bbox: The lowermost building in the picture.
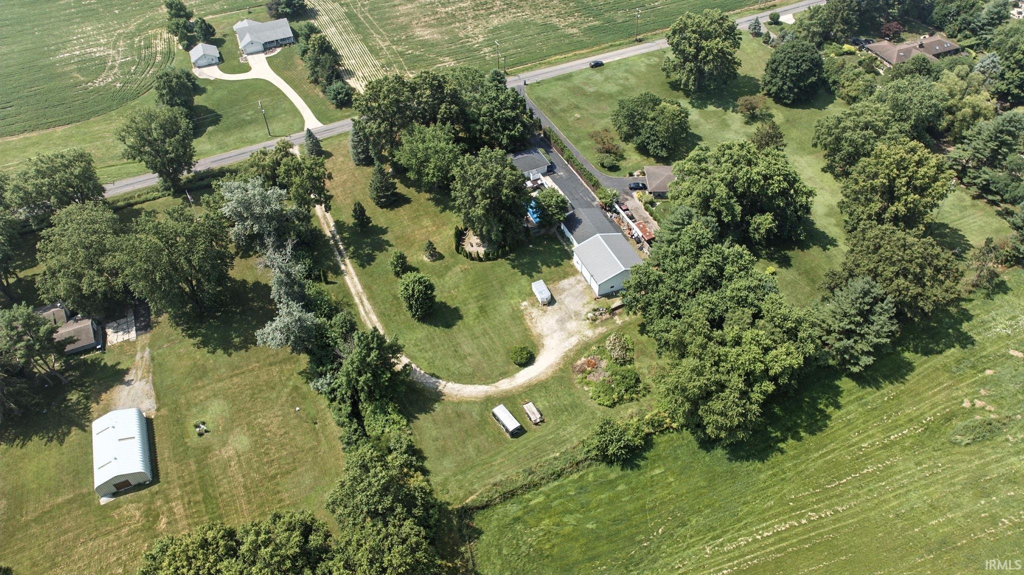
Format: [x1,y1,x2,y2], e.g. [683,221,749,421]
[92,410,152,496]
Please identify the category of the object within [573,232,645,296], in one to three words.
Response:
building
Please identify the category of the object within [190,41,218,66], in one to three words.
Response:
building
